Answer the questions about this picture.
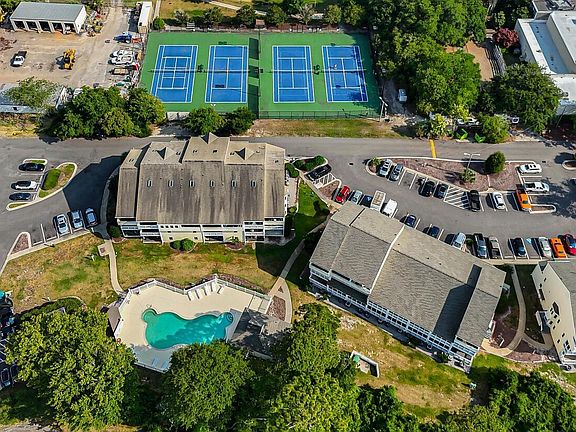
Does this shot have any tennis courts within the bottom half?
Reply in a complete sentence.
No, the scene shows no tennis court within the bottom half.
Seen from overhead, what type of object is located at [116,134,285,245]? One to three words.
building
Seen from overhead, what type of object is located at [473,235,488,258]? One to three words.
vehicle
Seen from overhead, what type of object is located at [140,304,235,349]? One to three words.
swimming pool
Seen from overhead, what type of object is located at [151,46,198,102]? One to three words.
tennis court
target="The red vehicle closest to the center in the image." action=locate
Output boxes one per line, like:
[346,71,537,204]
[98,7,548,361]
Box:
[337,186,349,203]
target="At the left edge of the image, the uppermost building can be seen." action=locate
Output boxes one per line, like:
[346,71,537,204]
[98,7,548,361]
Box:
[7,0,85,34]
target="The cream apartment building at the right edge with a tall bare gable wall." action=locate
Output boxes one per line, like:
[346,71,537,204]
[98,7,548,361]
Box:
[532,260,576,364]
